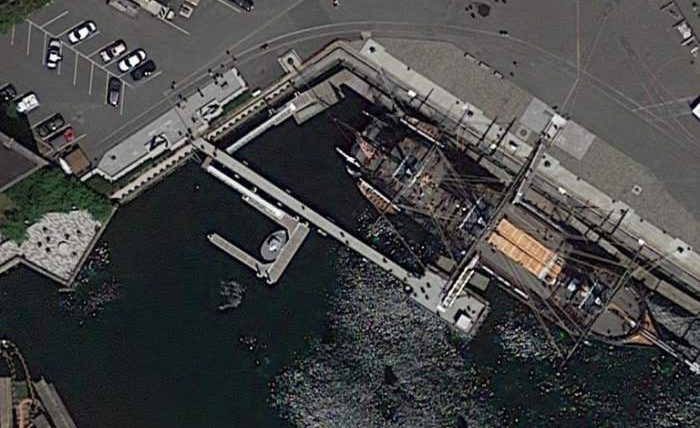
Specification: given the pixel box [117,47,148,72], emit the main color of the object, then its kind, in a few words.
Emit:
white car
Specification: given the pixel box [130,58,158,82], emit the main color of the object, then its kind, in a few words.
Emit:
black car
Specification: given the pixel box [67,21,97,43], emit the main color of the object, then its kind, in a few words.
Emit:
white car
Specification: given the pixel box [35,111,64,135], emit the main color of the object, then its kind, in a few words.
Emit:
black car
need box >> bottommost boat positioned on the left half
[260,230,286,258]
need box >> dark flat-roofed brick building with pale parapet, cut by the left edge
[0,129,48,193]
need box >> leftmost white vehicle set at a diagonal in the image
[13,91,40,113]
